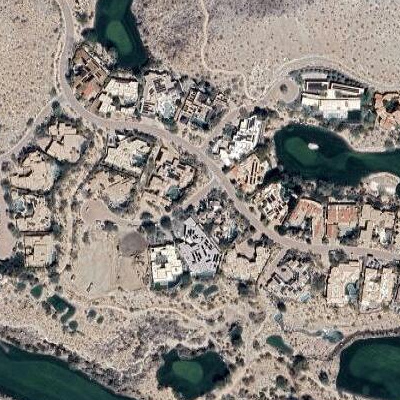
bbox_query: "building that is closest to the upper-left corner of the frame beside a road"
[69,44,109,101]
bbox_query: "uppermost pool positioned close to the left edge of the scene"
[11,193,32,217]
